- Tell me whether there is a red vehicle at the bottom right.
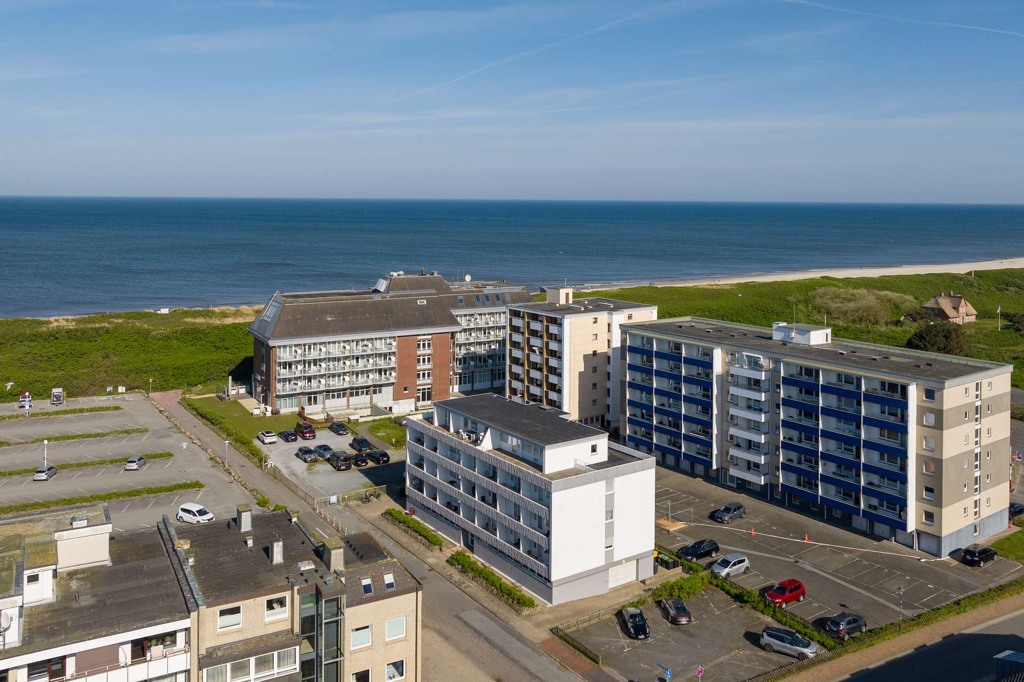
Yes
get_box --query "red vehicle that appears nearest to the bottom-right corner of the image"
[766,576,806,605]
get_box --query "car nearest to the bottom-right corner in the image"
[962,539,998,563]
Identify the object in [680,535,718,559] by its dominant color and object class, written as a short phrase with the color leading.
black car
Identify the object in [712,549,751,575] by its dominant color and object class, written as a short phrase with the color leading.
gray car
